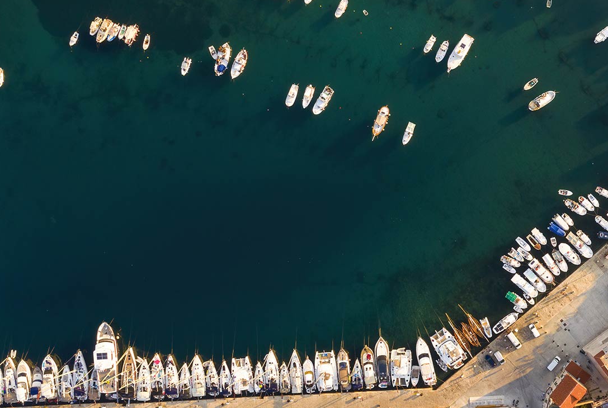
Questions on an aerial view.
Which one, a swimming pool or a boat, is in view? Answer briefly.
boat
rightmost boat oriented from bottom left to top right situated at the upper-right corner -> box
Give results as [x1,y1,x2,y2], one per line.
[593,27,608,45]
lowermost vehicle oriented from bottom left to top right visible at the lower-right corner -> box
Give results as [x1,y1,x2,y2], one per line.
[546,356,561,371]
